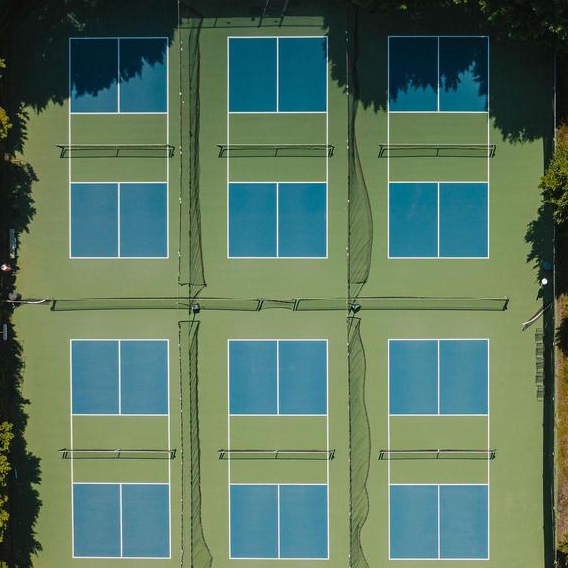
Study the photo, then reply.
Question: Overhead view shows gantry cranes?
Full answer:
No, there is no gantry crane in the image.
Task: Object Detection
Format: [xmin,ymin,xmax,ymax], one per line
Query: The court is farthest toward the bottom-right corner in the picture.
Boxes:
[388,339,490,560]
